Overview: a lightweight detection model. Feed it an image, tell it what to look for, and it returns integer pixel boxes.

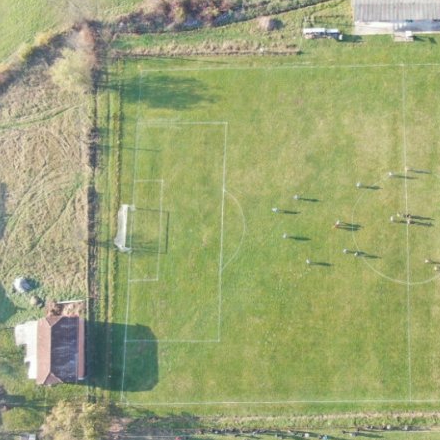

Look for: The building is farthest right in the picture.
[353,0,440,41]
